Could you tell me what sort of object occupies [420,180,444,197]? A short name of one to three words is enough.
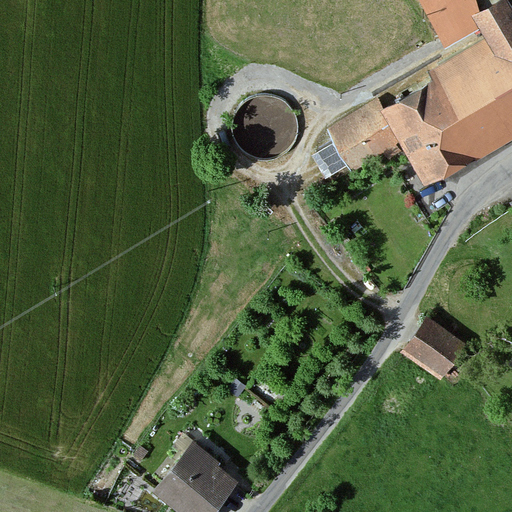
car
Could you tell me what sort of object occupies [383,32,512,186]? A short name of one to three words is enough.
house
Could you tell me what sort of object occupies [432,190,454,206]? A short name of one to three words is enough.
car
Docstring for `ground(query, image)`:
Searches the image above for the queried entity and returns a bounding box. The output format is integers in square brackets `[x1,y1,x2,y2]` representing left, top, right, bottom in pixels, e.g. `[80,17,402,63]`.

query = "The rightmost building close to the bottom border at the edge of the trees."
[153,430,238,512]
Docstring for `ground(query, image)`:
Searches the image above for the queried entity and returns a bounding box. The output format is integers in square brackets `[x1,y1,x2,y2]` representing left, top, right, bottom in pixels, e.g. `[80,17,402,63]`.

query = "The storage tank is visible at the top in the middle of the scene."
[232,92,299,161]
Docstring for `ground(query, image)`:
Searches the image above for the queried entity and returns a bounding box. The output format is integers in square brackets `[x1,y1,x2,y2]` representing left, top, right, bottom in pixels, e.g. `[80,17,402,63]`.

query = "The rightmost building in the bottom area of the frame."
[400,316,464,380]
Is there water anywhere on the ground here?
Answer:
No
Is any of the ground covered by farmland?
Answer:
Yes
